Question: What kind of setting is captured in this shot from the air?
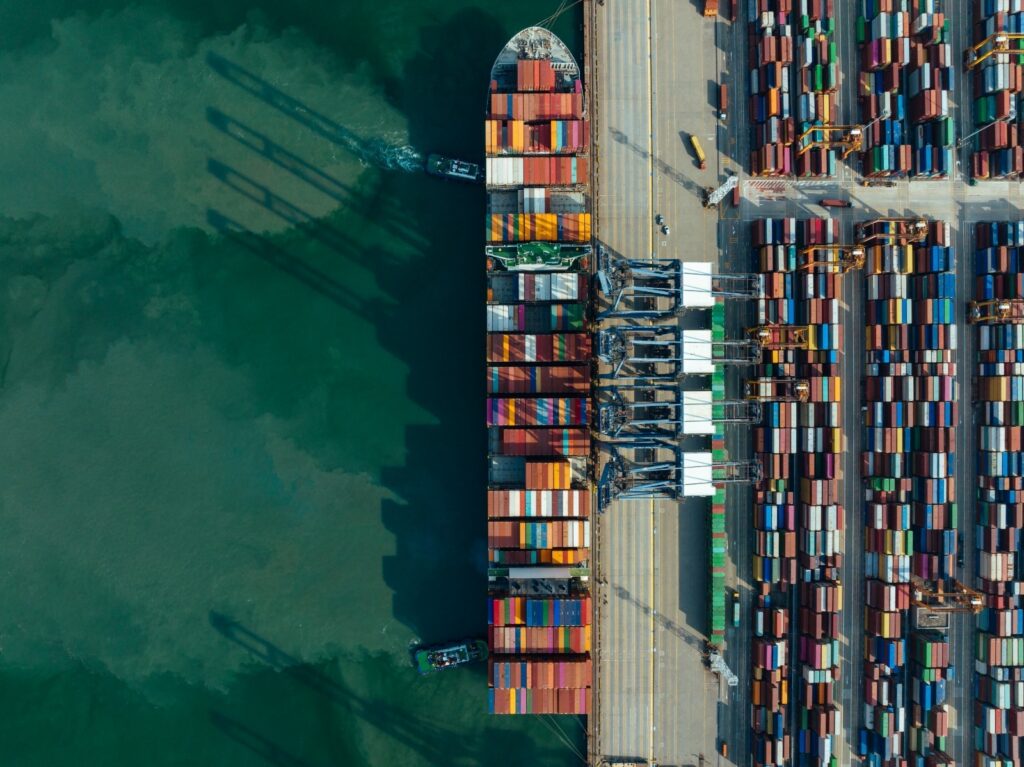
port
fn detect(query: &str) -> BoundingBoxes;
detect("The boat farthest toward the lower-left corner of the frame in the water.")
[414,639,488,675]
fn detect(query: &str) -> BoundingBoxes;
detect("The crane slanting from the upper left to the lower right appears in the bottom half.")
[699,637,738,686]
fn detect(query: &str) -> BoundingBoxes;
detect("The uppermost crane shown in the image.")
[957,33,1024,79]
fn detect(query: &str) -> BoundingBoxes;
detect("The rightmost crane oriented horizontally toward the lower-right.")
[913,579,990,611]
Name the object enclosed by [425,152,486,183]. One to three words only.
boat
